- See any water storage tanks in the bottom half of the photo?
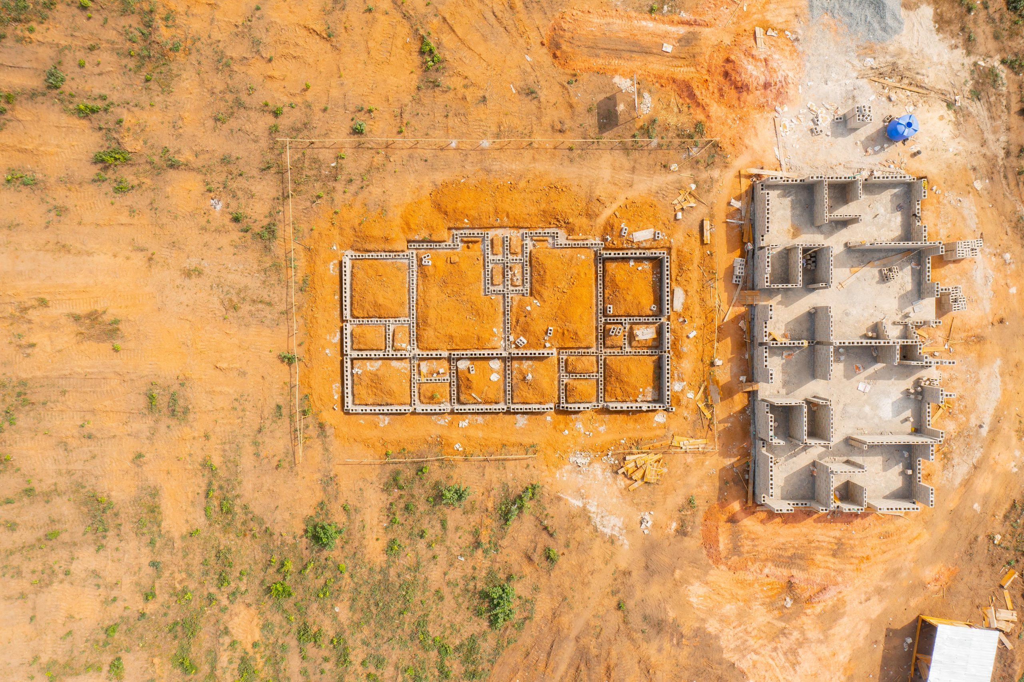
No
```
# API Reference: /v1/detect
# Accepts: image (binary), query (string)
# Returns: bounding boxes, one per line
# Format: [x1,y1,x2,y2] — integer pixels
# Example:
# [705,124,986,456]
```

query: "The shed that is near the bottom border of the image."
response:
[910,614,1003,682]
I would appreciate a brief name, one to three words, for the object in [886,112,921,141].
water tank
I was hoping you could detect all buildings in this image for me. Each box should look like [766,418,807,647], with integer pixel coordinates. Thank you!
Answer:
[910,614,1003,682]
[748,176,956,512]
